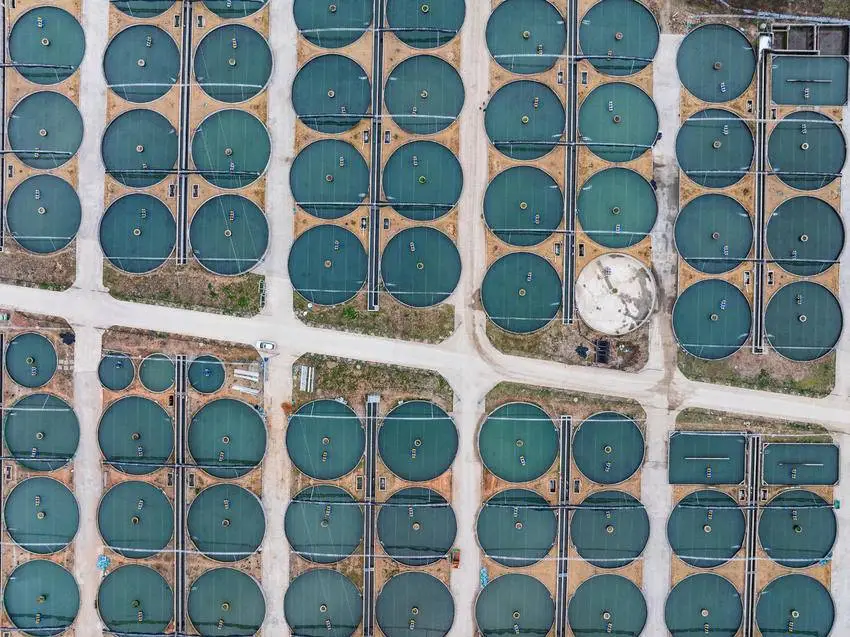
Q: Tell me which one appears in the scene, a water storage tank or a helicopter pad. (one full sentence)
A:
It is a water storage tank that can be seen here.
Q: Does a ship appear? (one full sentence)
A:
No, the picture doesn't show any ship.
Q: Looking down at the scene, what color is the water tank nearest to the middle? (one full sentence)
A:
The water tank nearest to the middle is blue.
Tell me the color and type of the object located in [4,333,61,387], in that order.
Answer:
blue water tank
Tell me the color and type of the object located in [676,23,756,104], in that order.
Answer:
blue water tank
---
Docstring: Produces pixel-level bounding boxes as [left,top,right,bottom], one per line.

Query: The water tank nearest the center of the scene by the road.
[381,226,462,307]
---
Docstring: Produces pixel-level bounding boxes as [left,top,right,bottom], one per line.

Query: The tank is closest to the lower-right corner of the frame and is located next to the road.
[756,572,835,637]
